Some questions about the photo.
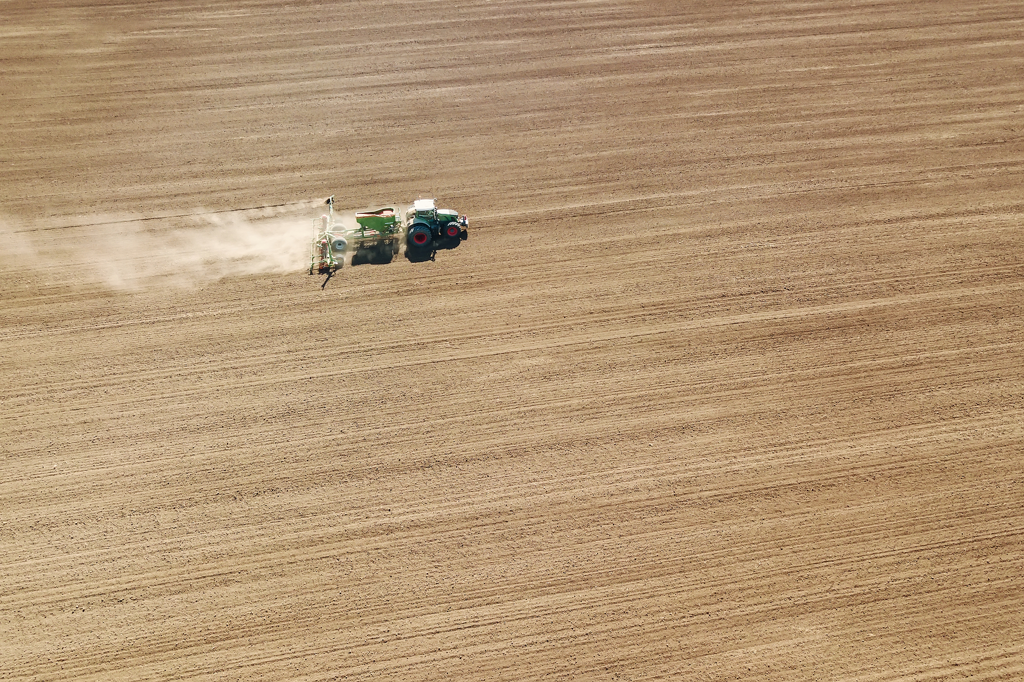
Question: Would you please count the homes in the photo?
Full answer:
The picture shows no homes.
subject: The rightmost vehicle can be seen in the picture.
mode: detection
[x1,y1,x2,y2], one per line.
[404,195,469,248]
